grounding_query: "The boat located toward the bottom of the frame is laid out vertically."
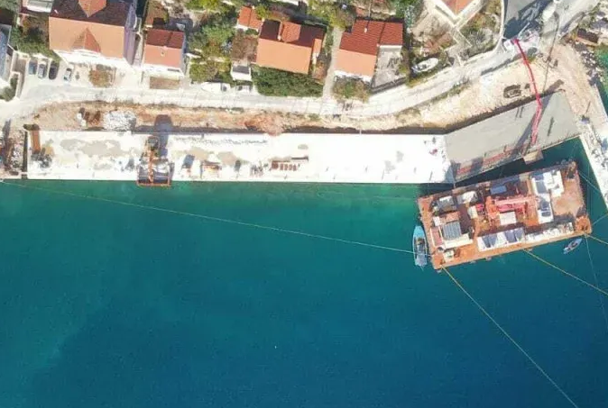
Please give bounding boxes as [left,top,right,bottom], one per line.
[414,224,427,266]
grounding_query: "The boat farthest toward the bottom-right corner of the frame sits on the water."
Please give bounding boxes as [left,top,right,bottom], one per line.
[562,239,581,255]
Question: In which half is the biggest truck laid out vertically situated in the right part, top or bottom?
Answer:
top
